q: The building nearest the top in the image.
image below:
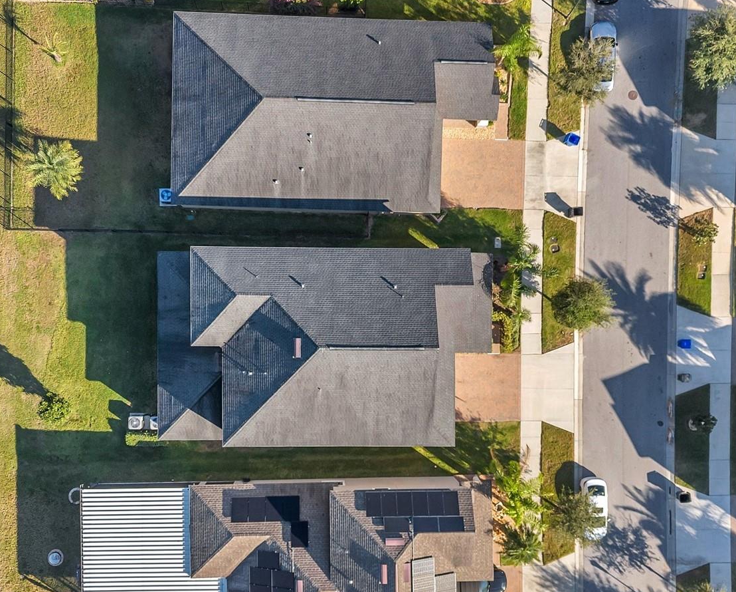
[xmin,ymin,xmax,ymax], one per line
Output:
[170,10,498,215]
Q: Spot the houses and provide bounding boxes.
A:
[188,475,493,592]
[157,245,494,448]
[170,10,498,215]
